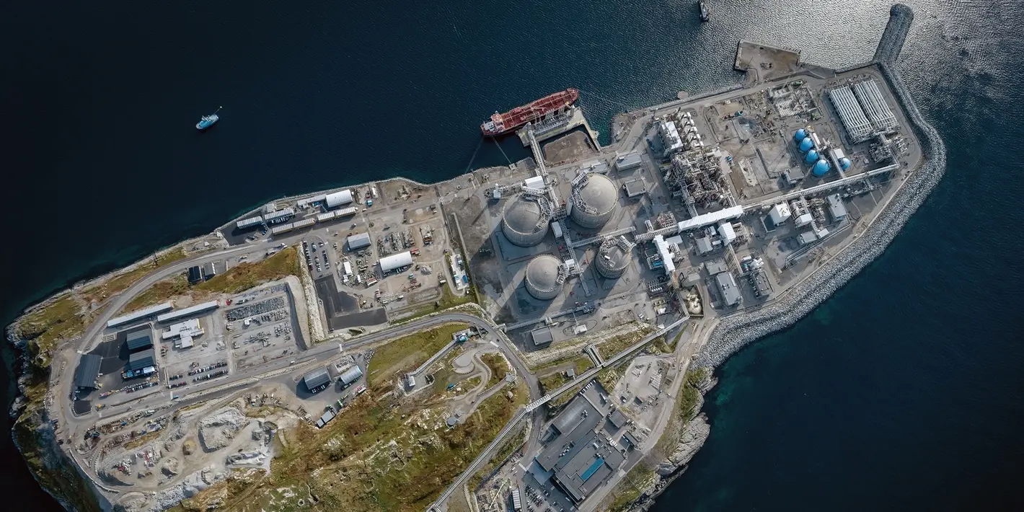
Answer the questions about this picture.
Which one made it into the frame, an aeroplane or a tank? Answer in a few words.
tank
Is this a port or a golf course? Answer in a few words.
port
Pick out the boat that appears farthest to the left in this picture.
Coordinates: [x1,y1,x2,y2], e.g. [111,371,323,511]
[196,115,221,129]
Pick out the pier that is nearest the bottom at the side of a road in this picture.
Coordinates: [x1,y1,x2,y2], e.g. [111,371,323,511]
[515,107,601,152]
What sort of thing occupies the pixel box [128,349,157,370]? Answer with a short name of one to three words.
shed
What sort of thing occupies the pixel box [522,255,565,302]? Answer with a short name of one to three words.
storage tank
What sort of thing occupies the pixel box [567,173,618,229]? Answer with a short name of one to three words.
storage tank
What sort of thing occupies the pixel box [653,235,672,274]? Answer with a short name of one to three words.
building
